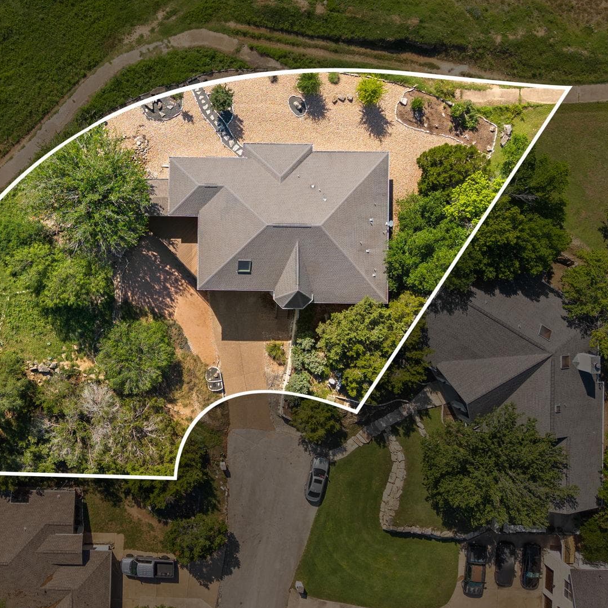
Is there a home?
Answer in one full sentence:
Yes, a home appears in the view.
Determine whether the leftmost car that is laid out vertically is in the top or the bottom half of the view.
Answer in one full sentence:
Seen from above, the leftmost car that is laid out vertically lies in the bottom half of the view.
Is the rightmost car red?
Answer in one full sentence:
No, the rightmost car is actually black.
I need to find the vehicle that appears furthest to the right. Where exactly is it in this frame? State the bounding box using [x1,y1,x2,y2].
[522,544,545,590]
